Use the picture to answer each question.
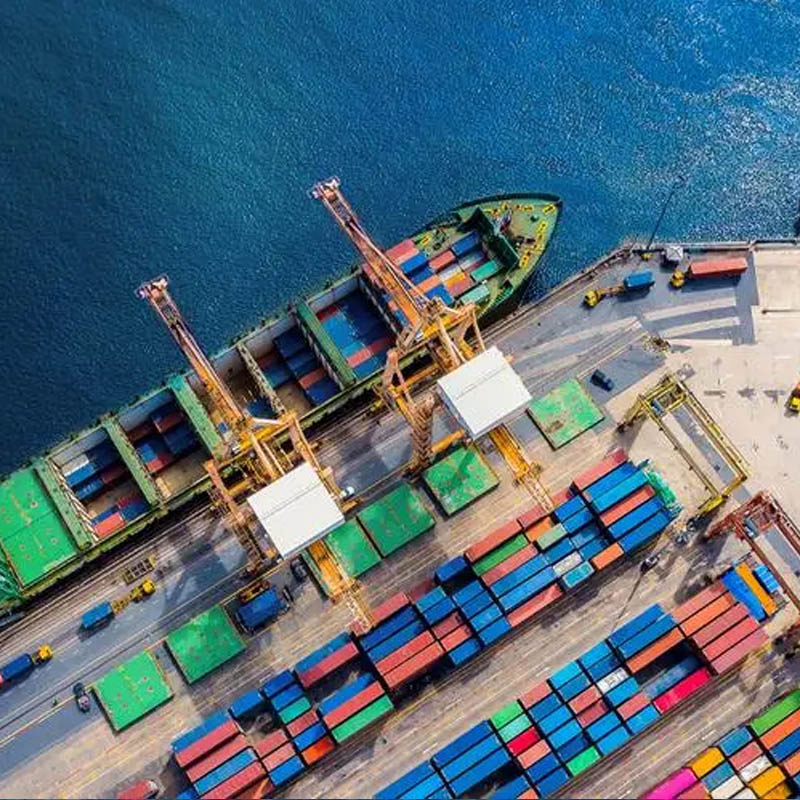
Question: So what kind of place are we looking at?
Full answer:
The picture captures a port.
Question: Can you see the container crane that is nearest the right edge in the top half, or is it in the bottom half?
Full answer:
The container crane that is nearest the right edge sits in the bottom half of the picture.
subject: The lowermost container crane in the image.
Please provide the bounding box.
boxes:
[691,491,800,646]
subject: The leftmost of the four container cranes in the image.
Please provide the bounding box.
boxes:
[137,273,377,641]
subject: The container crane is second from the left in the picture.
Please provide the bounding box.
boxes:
[313,177,565,518]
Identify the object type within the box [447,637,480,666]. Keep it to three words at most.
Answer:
shipping container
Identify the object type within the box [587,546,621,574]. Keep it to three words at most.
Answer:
shipping container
